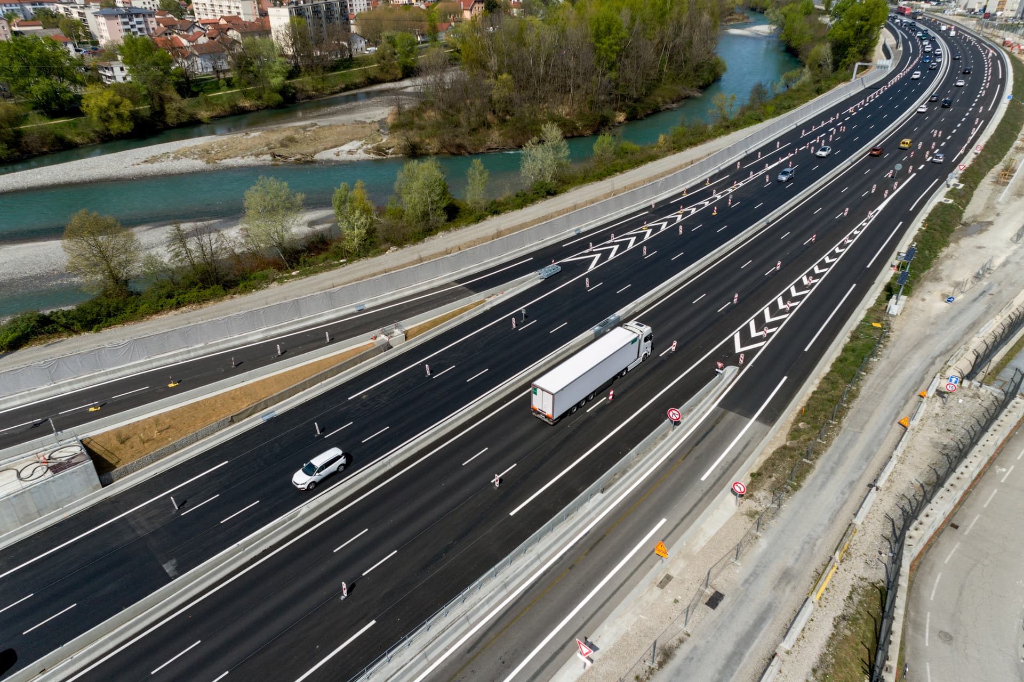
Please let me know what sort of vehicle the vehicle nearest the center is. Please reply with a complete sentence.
The vehicle nearest the center appears to be a truck.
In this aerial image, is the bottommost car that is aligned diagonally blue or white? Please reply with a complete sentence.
The bottommost car that is aligned diagonally looks white in the image.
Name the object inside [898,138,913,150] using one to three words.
vehicle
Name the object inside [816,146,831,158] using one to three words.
vehicle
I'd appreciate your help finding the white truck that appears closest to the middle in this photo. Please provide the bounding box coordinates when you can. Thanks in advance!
[531,325,655,426]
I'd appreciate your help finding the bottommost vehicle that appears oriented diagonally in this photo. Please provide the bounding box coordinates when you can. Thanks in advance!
[291,447,350,490]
